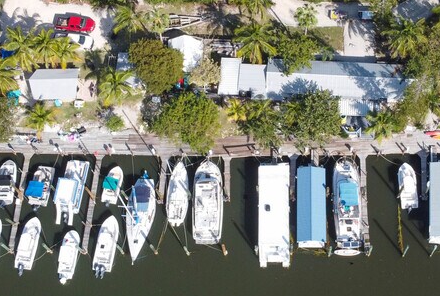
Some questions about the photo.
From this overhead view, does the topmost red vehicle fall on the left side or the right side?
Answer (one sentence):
You can find the topmost red vehicle on the left side of the picture.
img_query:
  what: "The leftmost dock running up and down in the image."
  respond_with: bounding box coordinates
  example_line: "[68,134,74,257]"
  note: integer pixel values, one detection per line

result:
[7,155,35,253]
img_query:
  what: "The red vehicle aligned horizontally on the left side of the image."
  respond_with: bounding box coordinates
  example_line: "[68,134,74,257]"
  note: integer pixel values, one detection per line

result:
[52,15,99,36]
